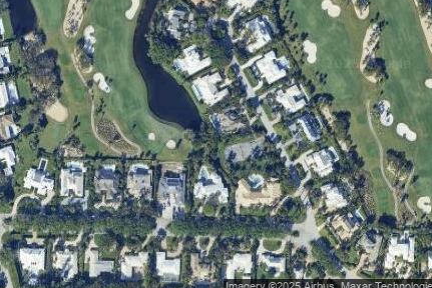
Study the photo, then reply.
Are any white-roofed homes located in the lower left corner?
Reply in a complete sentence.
Yes, the scene does show a white-roofed home in the lower left corner.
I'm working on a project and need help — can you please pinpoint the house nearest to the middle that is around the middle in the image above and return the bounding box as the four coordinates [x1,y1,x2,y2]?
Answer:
[219,109,241,131]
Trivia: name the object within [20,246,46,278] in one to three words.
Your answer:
house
